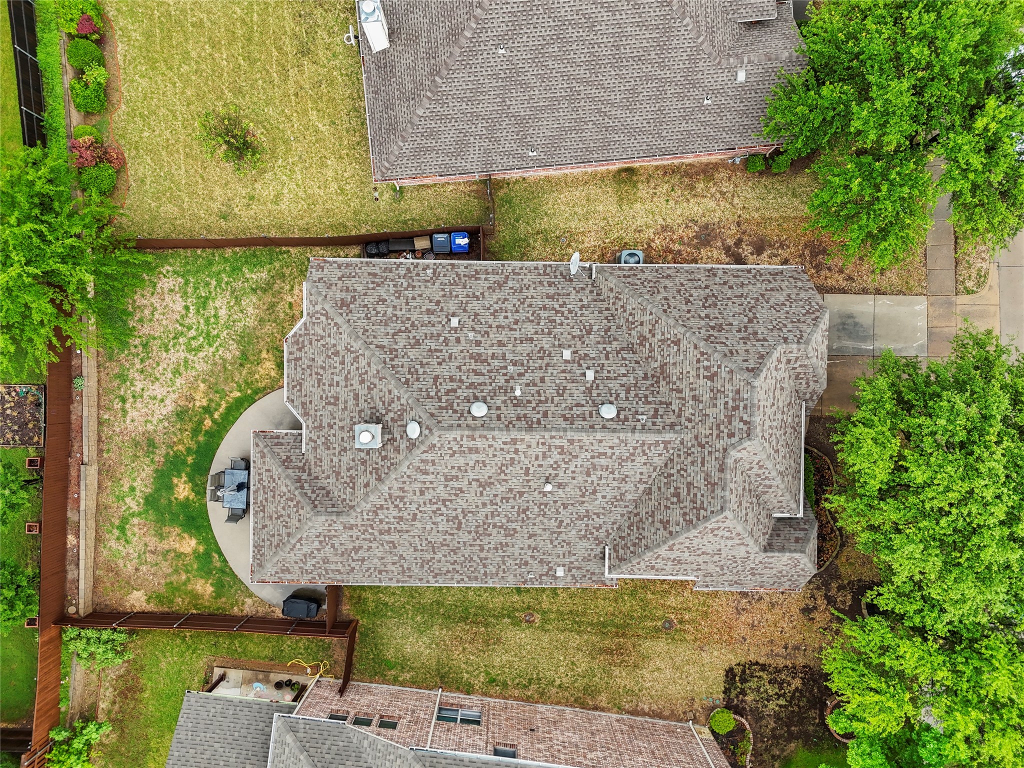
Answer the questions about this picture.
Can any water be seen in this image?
No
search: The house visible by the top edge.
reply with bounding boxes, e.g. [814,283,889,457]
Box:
[359,0,810,190]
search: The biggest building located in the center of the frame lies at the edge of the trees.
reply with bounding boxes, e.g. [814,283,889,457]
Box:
[250,258,829,591]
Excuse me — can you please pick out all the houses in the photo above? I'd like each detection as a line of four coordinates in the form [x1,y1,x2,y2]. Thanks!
[167,673,731,768]
[250,258,829,591]
[359,0,810,190]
